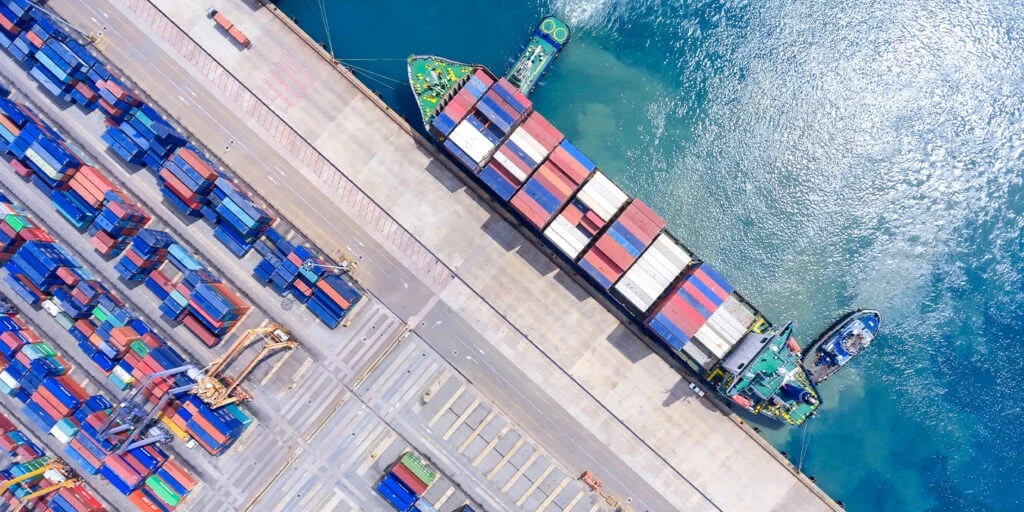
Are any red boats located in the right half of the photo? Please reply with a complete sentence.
No, looking in the right half of the photo, there is no red boat.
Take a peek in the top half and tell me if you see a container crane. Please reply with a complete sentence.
No, looking in the top half, there is no container crane.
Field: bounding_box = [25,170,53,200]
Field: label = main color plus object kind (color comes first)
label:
blue shipping container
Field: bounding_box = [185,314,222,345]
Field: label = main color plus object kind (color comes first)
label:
pink shipping container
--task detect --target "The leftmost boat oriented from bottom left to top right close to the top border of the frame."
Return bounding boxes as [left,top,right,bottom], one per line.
[502,16,569,100]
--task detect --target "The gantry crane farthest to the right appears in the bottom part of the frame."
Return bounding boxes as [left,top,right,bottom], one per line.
[196,321,298,414]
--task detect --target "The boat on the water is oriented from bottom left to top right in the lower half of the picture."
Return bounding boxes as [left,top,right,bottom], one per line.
[806,309,882,390]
